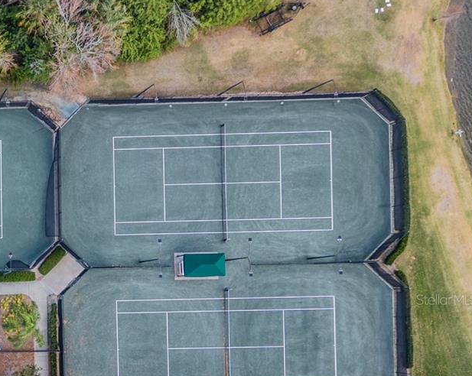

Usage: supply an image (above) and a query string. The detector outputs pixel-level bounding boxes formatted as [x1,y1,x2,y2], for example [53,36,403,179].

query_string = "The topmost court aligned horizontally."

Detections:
[60,97,393,267]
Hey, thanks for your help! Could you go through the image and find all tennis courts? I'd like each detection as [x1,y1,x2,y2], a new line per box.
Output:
[0,106,57,270]
[60,260,398,376]
[60,97,393,267]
